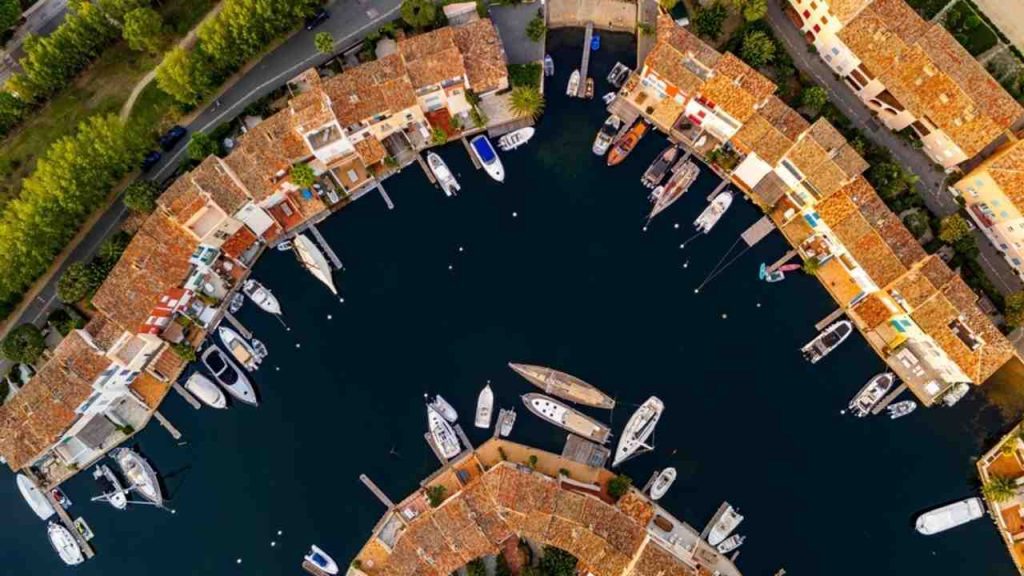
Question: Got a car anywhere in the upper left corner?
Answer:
Yes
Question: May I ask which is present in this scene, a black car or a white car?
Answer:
black car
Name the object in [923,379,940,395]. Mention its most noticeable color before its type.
white umbrella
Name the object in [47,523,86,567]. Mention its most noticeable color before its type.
white boat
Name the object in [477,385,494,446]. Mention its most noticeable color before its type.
white boat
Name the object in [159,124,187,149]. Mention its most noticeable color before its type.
black car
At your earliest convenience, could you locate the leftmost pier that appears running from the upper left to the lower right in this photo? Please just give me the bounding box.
[45,488,98,559]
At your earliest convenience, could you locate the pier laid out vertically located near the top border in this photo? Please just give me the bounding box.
[574,24,592,98]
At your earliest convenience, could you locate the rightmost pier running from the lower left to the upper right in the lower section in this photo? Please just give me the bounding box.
[871,381,907,416]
